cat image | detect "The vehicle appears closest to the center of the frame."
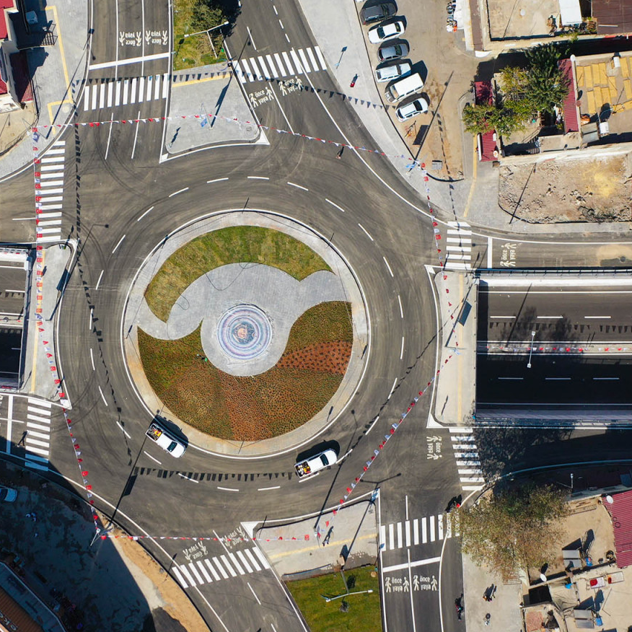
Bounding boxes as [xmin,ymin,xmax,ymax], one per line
[294,448,338,478]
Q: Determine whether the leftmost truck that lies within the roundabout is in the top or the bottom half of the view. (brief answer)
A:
bottom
